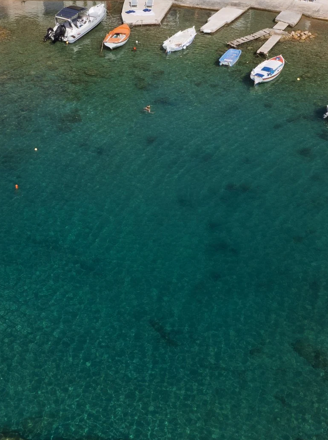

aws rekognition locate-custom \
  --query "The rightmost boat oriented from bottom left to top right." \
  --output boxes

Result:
[252,49,283,90]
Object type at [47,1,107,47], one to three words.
boat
